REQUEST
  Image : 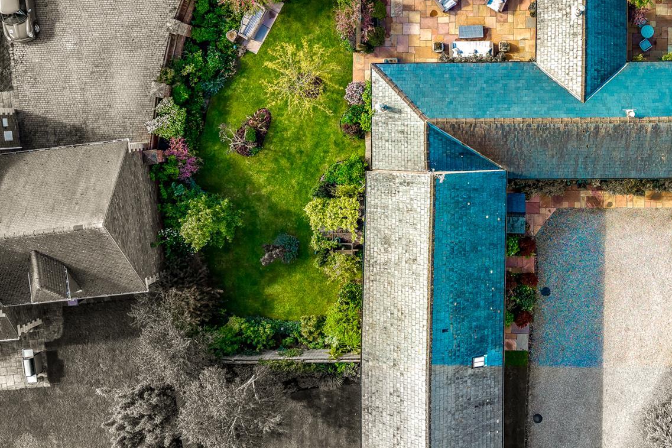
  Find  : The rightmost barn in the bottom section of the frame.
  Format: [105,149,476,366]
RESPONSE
[364,166,508,448]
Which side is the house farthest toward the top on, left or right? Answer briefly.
right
